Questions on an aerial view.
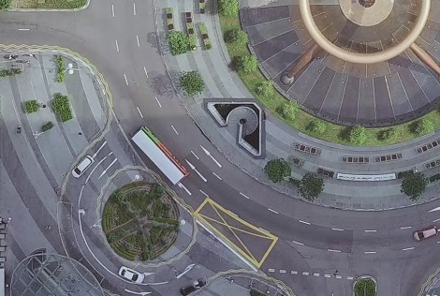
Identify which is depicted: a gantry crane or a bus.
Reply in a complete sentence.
I can see a bus in this picture.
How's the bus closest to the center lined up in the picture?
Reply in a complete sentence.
What the image shows is the bus closest to the center lying diagonally.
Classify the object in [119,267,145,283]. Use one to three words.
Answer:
car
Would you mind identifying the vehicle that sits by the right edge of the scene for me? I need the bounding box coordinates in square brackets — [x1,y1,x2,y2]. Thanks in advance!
[414,226,439,241]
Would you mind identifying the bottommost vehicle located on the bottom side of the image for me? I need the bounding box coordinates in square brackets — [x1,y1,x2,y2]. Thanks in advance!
[180,278,206,296]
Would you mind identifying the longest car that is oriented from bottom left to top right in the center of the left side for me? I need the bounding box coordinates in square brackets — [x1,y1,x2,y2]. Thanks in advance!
[73,154,95,177]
